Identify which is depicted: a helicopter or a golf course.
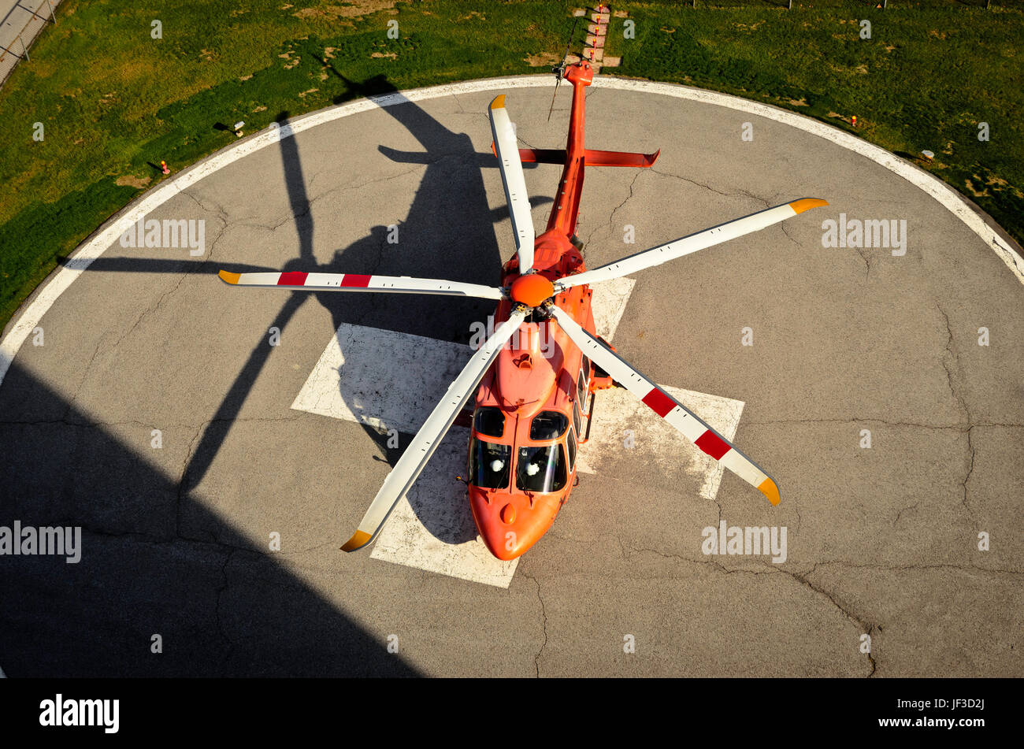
helicopter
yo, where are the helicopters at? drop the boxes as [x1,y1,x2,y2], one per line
[219,17,824,562]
